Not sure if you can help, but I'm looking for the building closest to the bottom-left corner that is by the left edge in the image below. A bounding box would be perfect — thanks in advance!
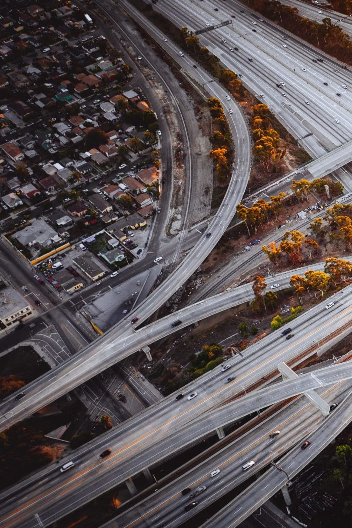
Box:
[0,287,35,335]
